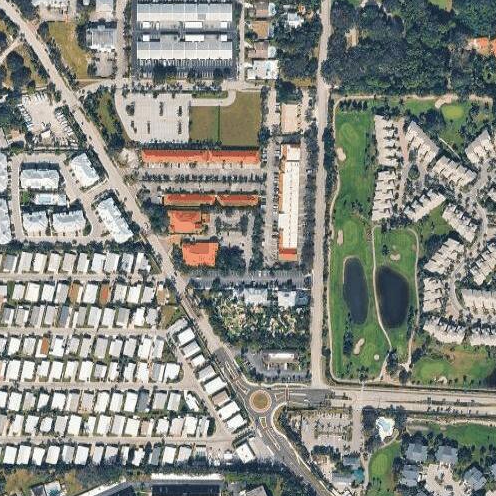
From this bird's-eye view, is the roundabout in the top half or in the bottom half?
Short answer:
bottom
